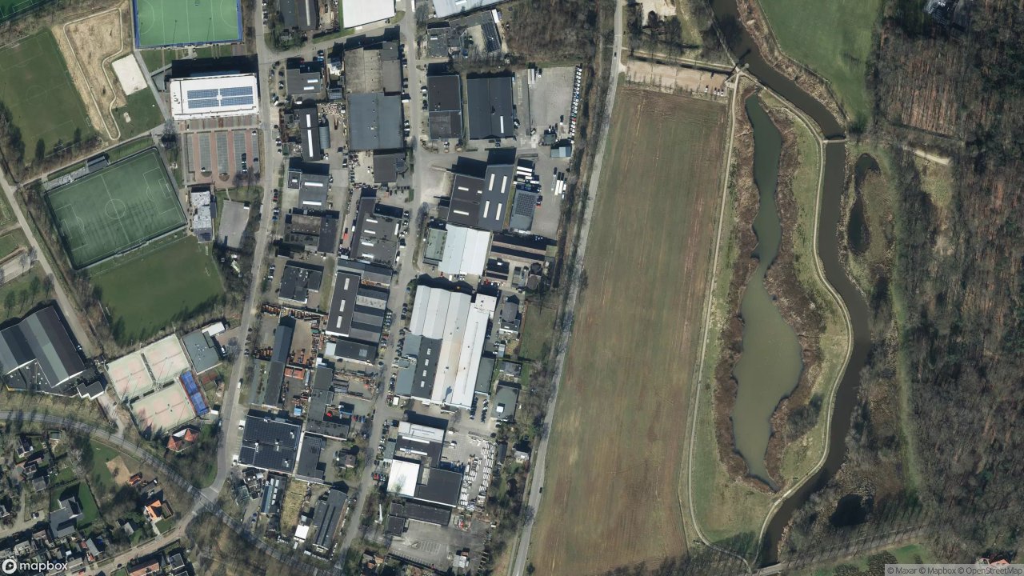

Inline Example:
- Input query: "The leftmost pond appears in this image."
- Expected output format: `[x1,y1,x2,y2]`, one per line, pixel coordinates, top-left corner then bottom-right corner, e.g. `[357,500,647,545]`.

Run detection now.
[733,95,801,491]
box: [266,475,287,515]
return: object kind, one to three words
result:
building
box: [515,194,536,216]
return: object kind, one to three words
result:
solar array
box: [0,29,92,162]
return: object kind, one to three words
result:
soccer field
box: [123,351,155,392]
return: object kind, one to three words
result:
tennis court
